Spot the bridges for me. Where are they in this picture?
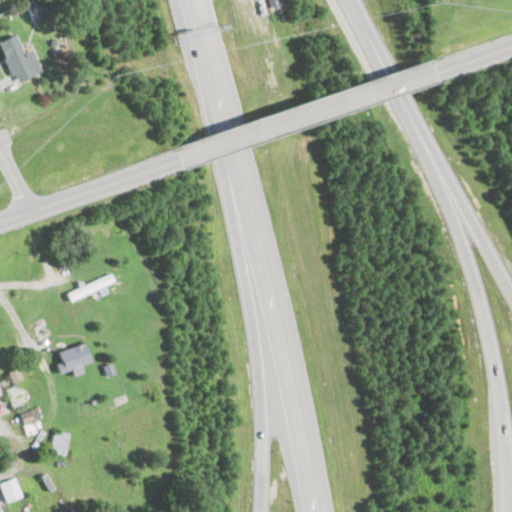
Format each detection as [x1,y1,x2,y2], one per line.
[170,58,448,176]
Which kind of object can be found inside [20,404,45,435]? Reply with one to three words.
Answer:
house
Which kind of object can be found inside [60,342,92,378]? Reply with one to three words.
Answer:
house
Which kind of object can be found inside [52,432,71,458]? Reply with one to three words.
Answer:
building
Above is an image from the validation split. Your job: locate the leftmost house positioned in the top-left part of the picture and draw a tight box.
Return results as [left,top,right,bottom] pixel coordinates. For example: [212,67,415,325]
[0,36,46,84]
